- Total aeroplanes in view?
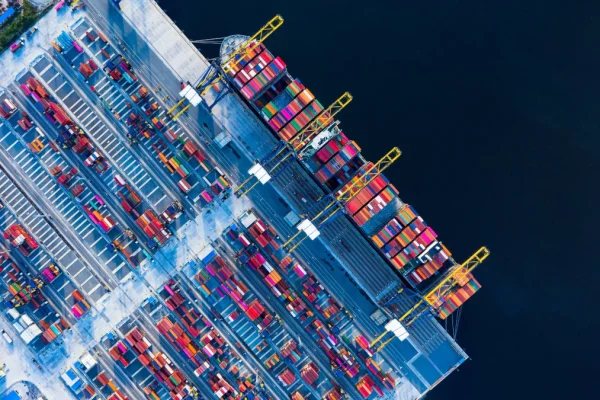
zero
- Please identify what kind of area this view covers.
port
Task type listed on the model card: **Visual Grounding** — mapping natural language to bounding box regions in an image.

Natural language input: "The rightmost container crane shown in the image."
[370,244,491,351]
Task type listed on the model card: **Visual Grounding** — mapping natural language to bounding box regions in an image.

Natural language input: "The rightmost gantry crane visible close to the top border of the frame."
[166,13,287,121]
